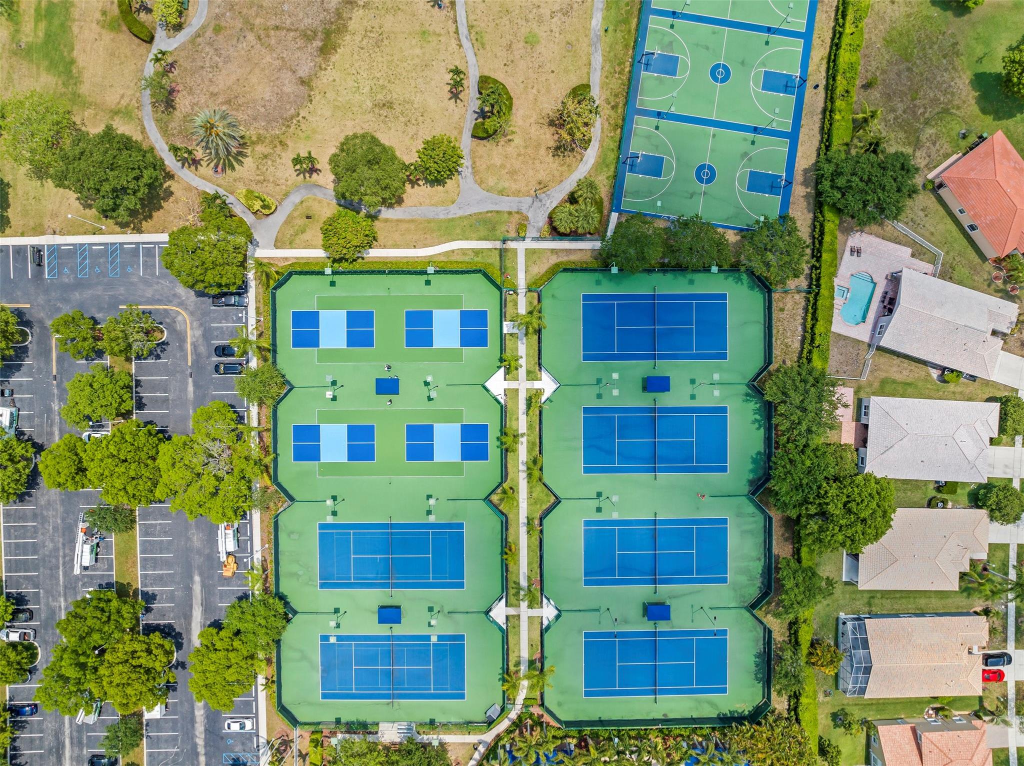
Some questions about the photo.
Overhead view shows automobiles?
Yes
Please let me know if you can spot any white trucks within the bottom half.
Yes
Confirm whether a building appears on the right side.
Yes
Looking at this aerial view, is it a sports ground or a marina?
sports ground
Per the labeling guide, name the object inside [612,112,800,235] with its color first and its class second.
green basketball court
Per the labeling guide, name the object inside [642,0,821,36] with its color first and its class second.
green basketball court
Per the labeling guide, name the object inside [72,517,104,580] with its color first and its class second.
white truck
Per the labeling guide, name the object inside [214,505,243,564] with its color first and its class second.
white truck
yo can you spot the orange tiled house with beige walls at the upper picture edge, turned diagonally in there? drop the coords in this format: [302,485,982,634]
[935,129,1024,258]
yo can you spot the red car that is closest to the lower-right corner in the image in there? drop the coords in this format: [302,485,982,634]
[982,668,1006,683]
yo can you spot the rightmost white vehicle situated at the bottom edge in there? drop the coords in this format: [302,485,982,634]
[224,716,255,732]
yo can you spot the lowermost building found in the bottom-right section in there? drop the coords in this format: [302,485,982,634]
[872,712,993,766]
